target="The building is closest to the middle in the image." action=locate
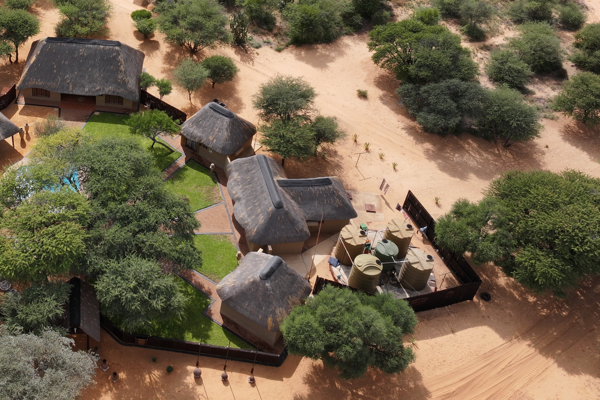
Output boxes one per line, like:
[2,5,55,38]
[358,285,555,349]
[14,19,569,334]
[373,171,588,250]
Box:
[224,152,357,254]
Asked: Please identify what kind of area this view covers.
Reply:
industrial area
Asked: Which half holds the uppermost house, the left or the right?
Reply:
left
